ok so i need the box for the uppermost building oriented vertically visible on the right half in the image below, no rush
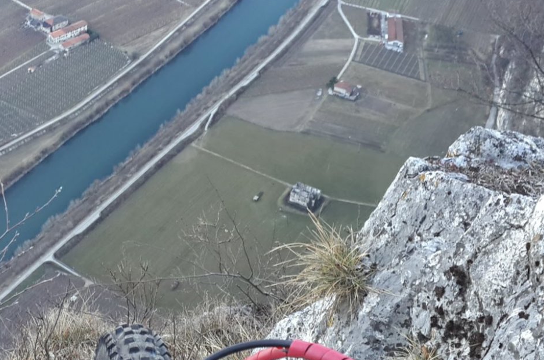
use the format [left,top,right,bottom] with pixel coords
[385,14,405,52]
